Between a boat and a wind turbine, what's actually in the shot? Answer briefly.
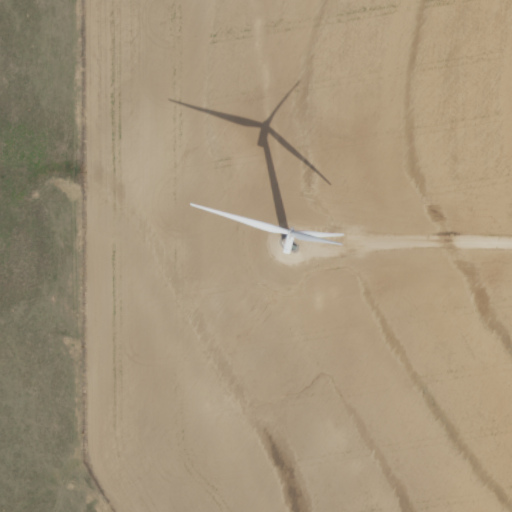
wind turbine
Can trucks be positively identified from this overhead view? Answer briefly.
No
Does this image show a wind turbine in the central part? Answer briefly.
Yes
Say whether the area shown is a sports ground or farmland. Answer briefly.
farmland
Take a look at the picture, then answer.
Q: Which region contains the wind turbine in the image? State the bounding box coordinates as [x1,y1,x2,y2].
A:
[190,204,344,254]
